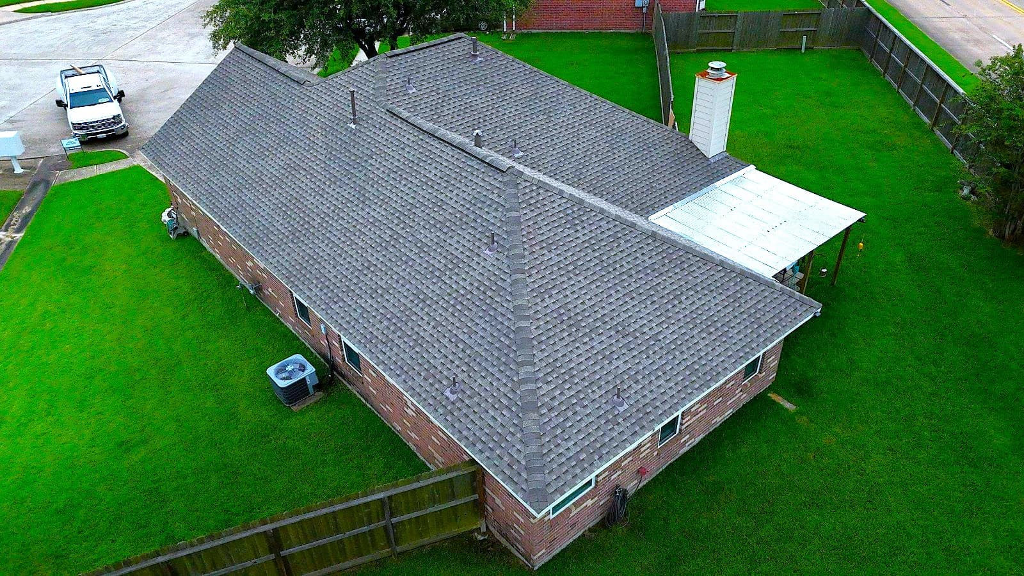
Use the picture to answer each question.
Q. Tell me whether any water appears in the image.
No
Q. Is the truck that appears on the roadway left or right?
left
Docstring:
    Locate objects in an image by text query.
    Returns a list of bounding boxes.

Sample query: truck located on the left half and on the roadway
[54,64,130,146]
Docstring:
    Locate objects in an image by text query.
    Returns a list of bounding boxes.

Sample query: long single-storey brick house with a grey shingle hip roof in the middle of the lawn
[139,32,823,572]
